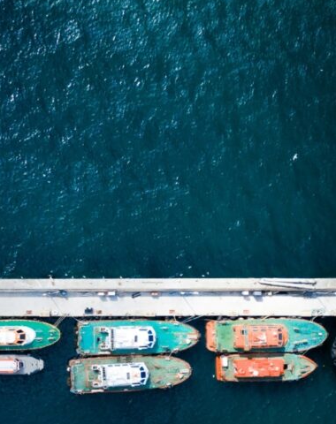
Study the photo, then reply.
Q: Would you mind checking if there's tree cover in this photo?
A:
No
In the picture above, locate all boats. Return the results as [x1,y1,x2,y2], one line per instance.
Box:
[66,354,193,394]
[0,352,44,378]
[0,318,61,352]
[214,352,318,382]
[205,317,328,352]
[75,318,201,355]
